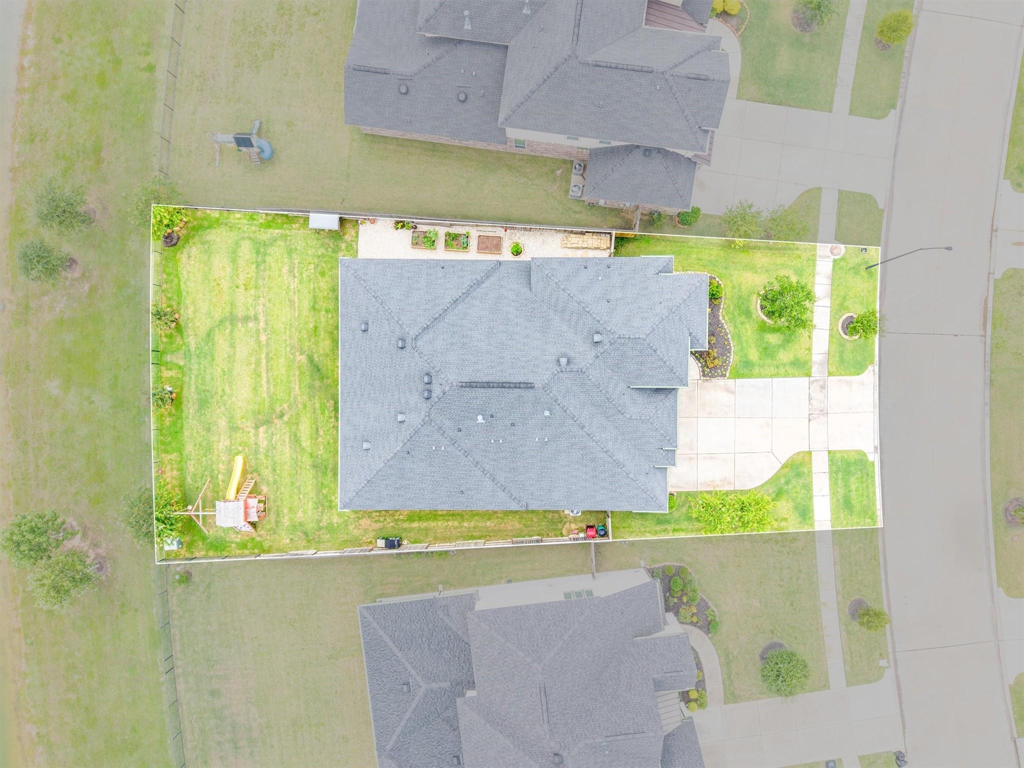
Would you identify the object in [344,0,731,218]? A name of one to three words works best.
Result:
house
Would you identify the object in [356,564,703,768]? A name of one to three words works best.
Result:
house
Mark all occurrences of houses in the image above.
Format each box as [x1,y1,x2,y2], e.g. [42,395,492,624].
[344,0,731,218]
[337,255,710,514]
[356,564,703,768]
